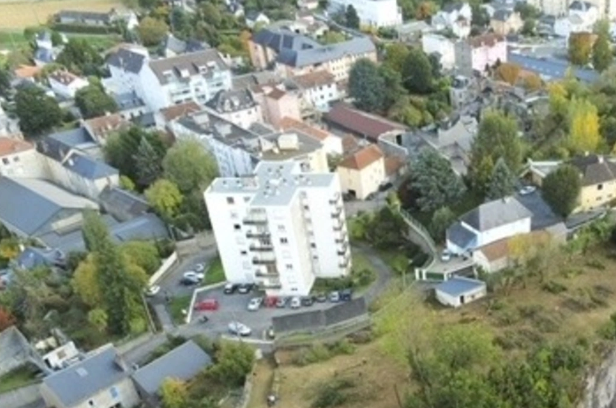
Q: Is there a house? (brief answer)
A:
Yes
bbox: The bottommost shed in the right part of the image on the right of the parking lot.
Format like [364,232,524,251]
[436,275,480,311]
